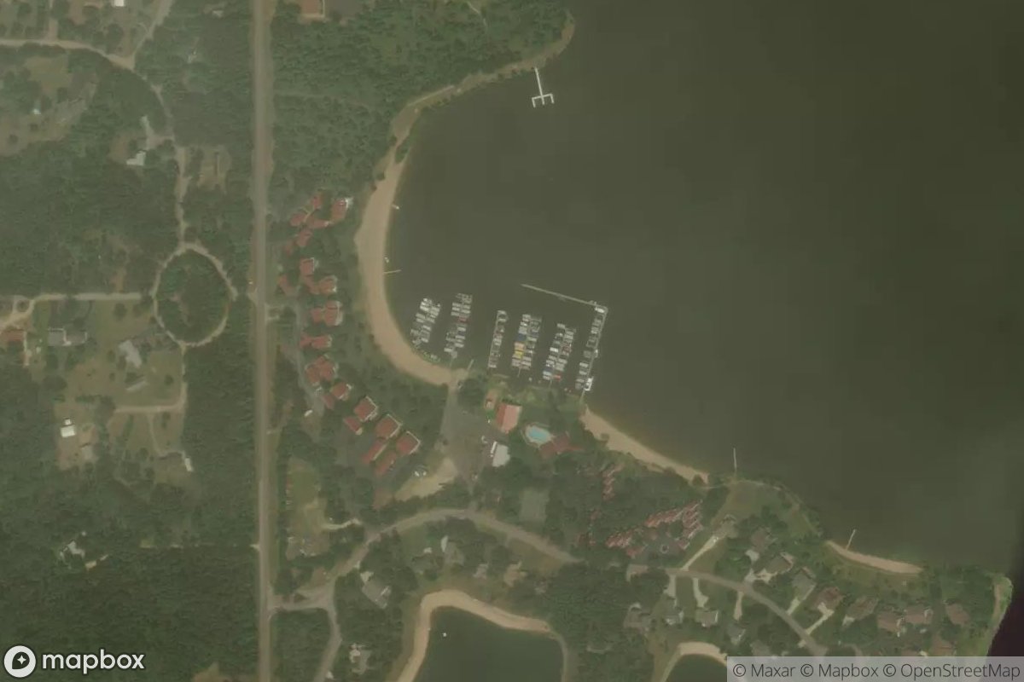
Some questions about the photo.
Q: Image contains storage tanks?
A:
No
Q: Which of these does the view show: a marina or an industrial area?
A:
marina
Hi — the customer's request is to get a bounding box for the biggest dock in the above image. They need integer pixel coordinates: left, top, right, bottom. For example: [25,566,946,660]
[522,283,609,402]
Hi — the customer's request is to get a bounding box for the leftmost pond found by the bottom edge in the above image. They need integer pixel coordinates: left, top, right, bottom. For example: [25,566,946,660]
[417,608,562,682]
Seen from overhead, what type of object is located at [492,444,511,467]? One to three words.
shed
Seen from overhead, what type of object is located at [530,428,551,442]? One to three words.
swimming pool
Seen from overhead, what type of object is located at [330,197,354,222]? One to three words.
building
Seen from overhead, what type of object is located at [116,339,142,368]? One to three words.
house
